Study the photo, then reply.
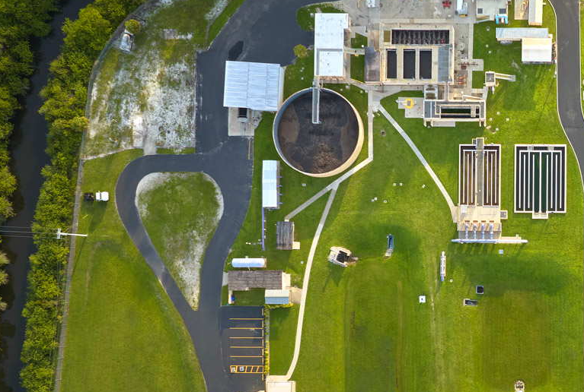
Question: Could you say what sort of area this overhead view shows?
industrial area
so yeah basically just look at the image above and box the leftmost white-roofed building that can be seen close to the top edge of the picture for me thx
[314,12,353,84]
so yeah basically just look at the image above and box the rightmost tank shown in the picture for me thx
[515,145,566,220]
